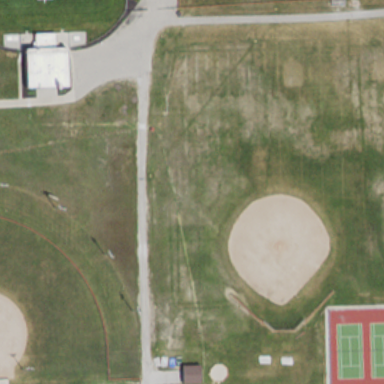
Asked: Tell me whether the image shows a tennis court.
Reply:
Yes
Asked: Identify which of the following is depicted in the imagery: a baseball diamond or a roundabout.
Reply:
baseball diamond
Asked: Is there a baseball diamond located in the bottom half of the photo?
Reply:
Yes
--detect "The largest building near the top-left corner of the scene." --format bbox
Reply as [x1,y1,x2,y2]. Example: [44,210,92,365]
[26,48,70,89]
